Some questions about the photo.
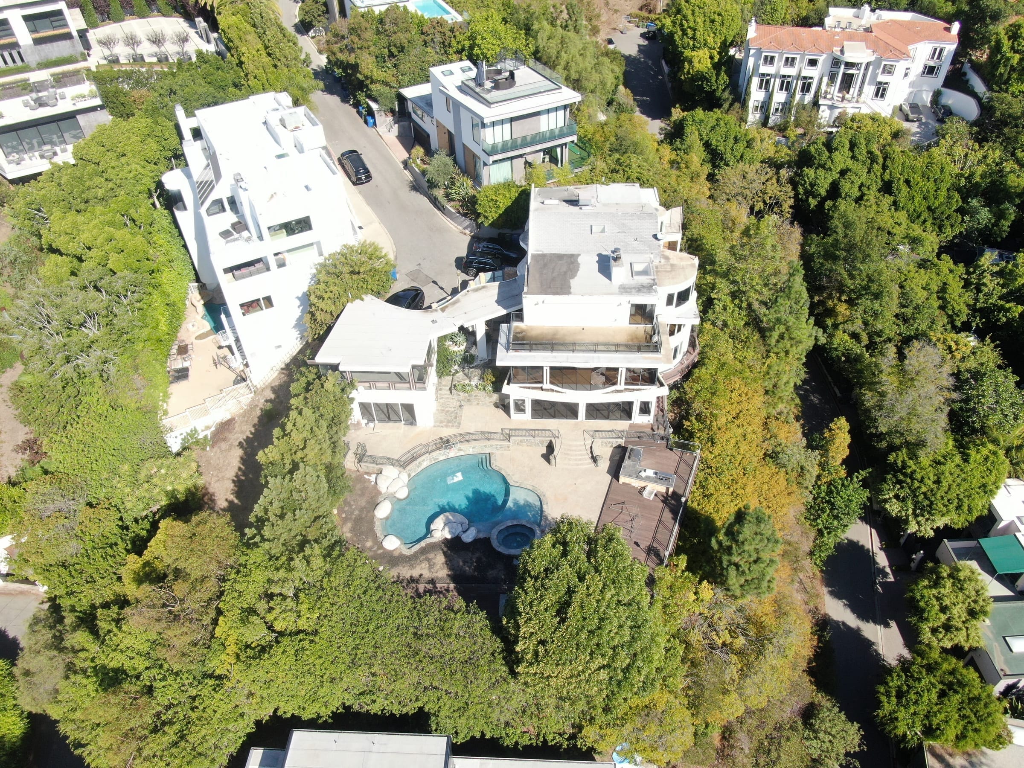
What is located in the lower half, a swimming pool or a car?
swimming pool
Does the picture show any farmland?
No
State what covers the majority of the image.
trees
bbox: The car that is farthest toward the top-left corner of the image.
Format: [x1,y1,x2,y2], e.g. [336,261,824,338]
[339,153,374,192]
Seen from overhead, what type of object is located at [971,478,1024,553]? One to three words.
house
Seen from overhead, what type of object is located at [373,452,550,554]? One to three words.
swimming pool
